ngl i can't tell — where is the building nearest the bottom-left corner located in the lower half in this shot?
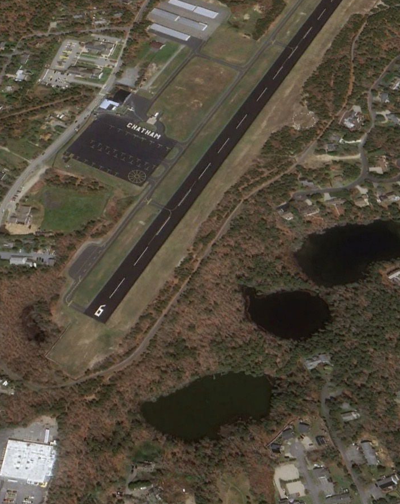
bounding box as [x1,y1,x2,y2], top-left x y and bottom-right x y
[0,439,56,485]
